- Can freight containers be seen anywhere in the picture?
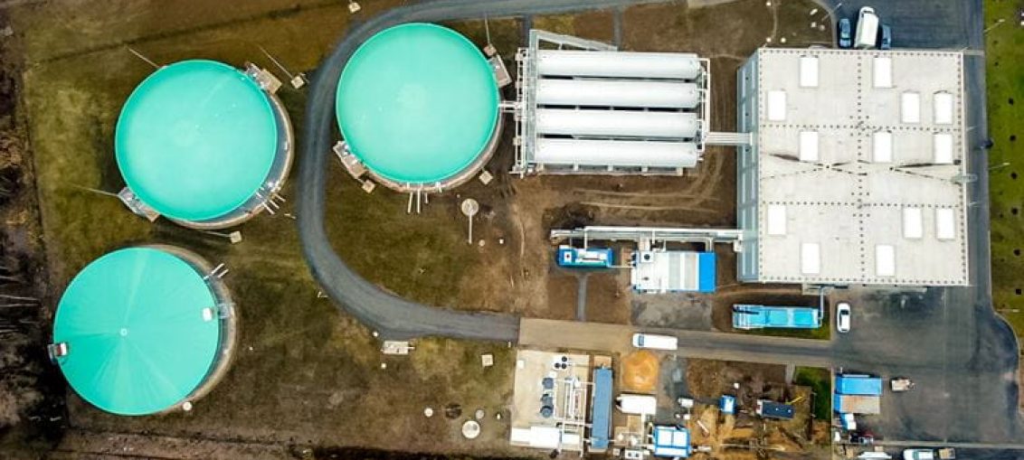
Yes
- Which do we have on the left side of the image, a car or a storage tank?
storage tank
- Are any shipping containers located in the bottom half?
Yes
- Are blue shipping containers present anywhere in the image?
Yes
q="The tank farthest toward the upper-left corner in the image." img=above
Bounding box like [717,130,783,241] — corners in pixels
[116,61,297,228]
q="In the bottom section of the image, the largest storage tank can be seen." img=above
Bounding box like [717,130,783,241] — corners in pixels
[45,243,238,417]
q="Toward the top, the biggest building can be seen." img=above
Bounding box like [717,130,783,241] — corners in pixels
[737,45,979,295]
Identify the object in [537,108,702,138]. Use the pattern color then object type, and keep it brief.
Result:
white storage tank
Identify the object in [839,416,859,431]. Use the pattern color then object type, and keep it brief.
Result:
white vehicle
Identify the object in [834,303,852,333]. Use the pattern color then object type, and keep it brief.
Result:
white car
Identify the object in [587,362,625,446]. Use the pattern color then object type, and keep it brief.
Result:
blue shipping container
